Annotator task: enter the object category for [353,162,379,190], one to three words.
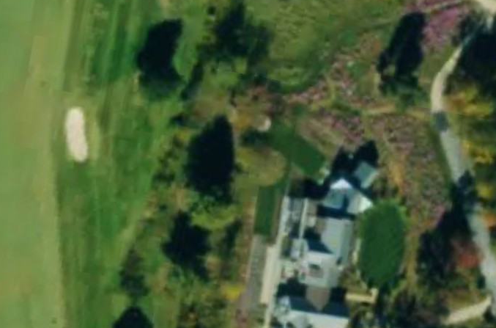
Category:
building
